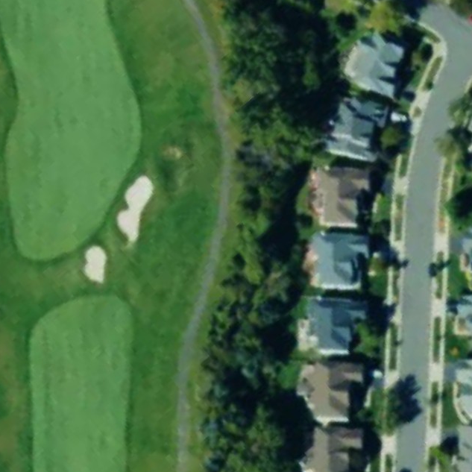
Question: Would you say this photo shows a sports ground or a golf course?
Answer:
golf course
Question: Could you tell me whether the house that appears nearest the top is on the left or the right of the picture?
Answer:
right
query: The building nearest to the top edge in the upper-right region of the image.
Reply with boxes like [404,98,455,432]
[340,35,408,100]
